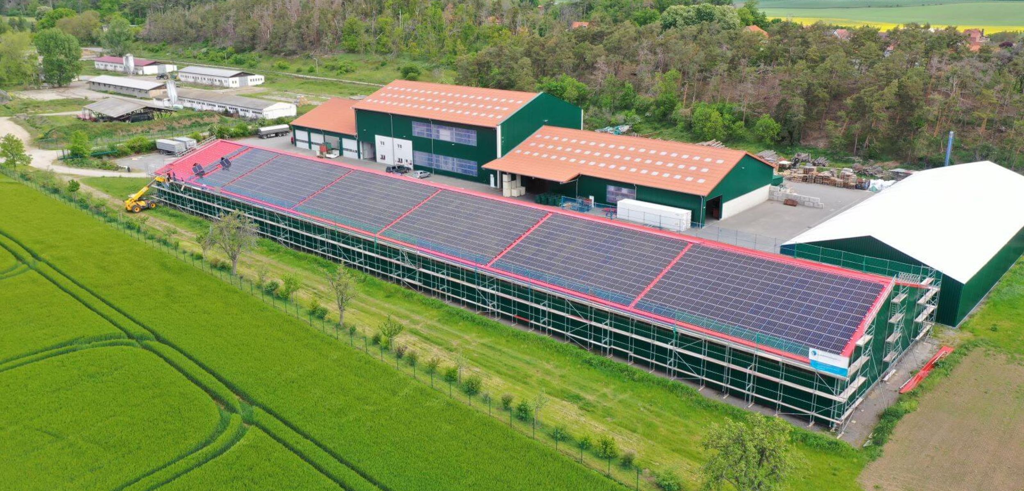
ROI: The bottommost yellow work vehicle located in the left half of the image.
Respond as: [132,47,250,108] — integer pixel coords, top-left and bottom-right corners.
[120,173,166,213]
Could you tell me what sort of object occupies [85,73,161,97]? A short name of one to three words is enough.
shed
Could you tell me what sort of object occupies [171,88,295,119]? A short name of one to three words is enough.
shed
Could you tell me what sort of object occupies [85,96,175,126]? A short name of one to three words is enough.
barn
